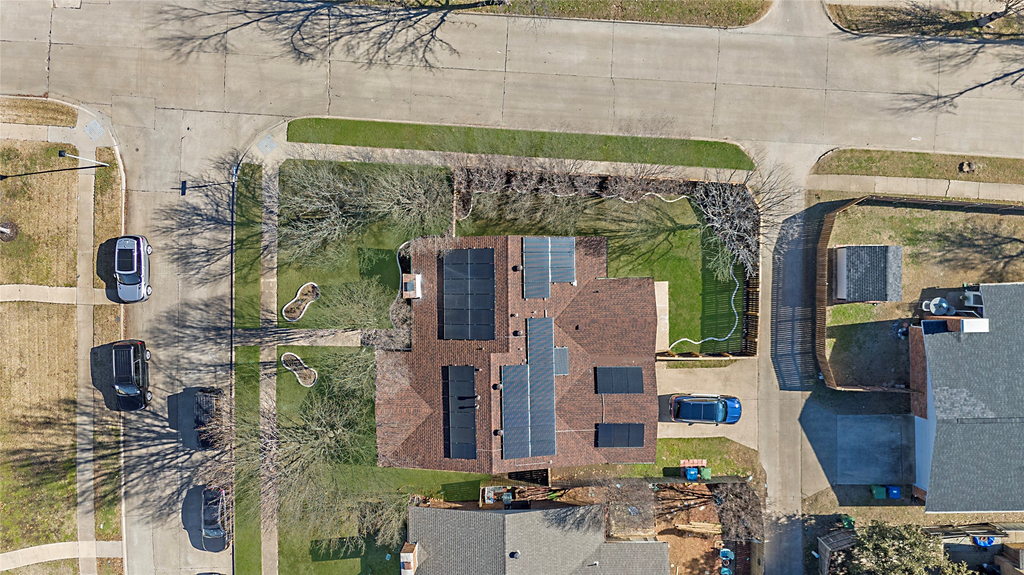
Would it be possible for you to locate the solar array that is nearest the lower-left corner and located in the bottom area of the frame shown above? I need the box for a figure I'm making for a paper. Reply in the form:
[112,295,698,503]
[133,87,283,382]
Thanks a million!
[448,366,476,459]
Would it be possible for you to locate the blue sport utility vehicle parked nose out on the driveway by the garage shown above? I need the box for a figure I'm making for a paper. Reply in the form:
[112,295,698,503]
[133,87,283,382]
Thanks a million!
[669,393,741,427]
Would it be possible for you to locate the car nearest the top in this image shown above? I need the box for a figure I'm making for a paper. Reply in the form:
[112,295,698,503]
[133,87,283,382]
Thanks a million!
[110,235,150,301]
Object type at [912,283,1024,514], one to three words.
house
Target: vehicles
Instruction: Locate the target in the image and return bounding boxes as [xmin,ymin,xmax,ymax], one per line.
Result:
[197,485,233,552]
[110,235,150,301]
[195,387,232,453]
[669,393,741,427]
[110,341,152,413]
